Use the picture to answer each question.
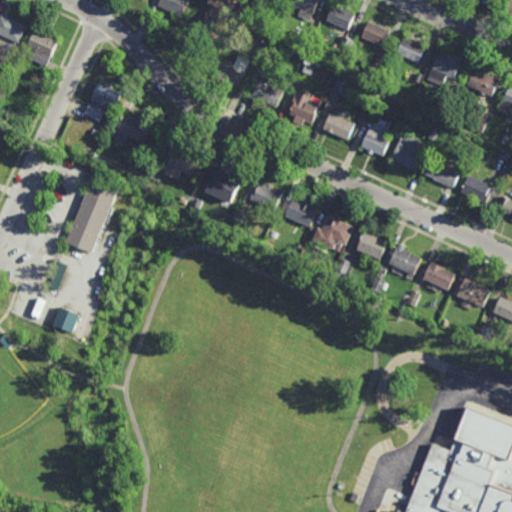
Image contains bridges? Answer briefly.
No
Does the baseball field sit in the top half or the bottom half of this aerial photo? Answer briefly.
bottom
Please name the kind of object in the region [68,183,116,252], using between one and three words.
building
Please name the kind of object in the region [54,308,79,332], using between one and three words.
building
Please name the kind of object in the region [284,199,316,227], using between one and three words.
house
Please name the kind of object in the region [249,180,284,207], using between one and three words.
house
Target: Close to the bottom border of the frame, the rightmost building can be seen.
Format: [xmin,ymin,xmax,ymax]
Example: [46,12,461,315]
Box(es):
[406,407,512,512]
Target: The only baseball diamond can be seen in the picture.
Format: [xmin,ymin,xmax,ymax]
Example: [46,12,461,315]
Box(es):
[0,340,48,436]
